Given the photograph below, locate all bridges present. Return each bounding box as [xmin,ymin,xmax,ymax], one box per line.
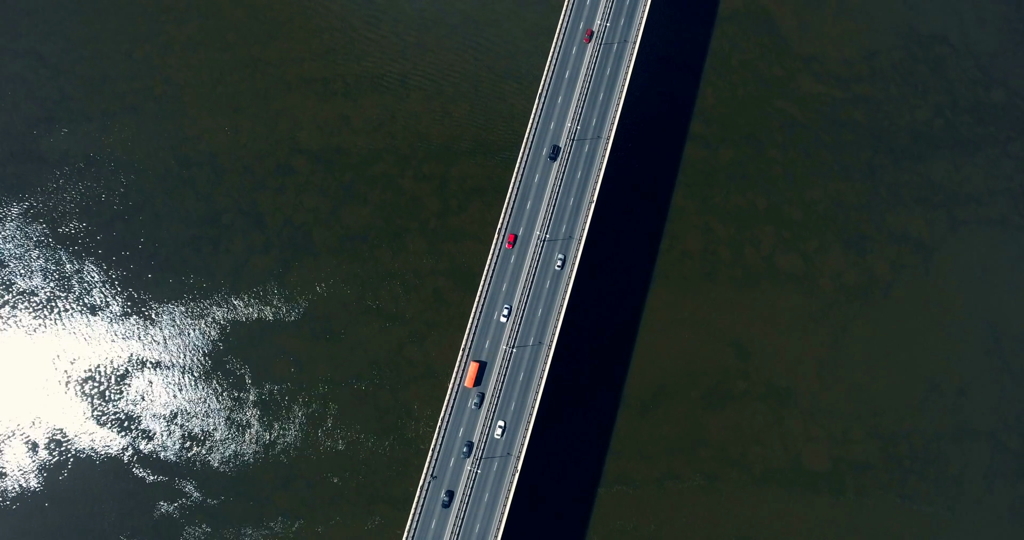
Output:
[403,0,651,540]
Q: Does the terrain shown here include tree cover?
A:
No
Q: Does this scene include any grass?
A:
No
